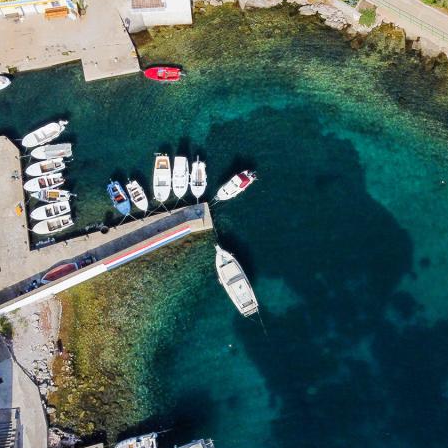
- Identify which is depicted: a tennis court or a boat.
boat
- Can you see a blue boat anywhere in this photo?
Yes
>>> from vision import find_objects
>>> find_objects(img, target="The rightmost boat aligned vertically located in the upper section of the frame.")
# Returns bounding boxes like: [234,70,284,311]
[189,152,208,199]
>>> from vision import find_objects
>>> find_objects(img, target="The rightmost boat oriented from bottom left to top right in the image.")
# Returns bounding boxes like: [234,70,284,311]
[215,169,254,200]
